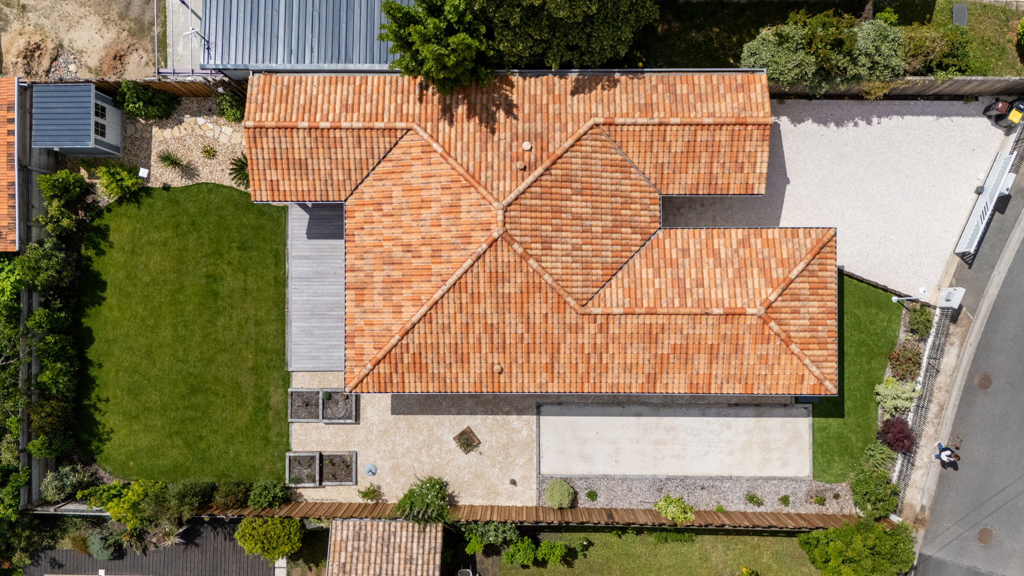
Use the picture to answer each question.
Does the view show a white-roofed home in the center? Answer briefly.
No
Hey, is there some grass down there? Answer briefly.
Yes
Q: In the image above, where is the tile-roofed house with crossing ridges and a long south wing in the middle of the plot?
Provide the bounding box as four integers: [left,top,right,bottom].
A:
[242,65,838,396]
